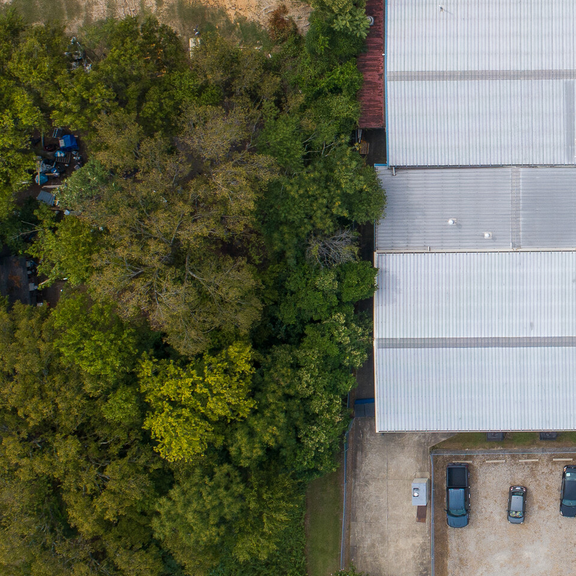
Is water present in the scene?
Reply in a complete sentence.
No, there is no water in the image.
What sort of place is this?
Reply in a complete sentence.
This looks like an industrial area.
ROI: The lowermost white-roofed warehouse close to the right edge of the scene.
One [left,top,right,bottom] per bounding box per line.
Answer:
[372,249,576,435]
